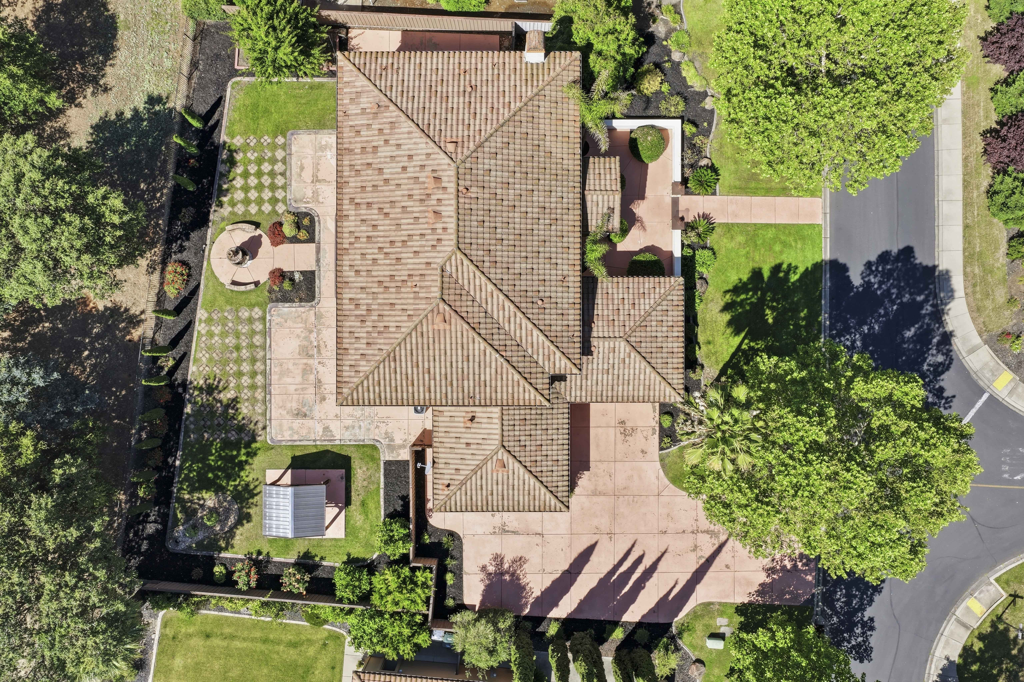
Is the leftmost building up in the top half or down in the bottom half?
bottom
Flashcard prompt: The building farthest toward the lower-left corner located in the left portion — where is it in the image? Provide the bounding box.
[263,482,330,538]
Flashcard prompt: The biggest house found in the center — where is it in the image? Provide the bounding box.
[334,31,686,515]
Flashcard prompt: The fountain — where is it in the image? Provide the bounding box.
[227,247,253,267]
